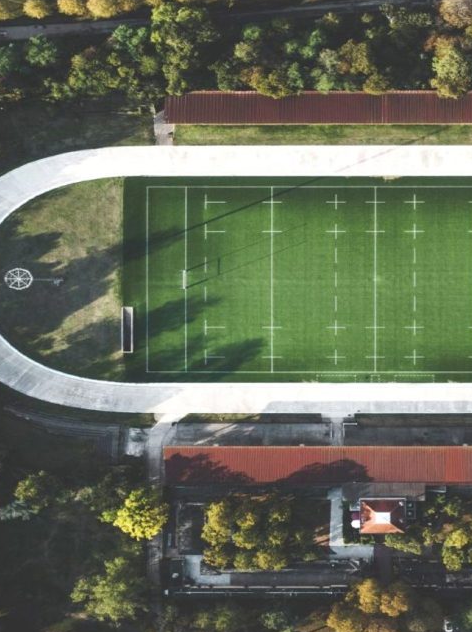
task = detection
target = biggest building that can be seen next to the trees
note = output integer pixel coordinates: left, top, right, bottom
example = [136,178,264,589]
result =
[342,485,425,534]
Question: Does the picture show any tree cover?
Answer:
Yes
